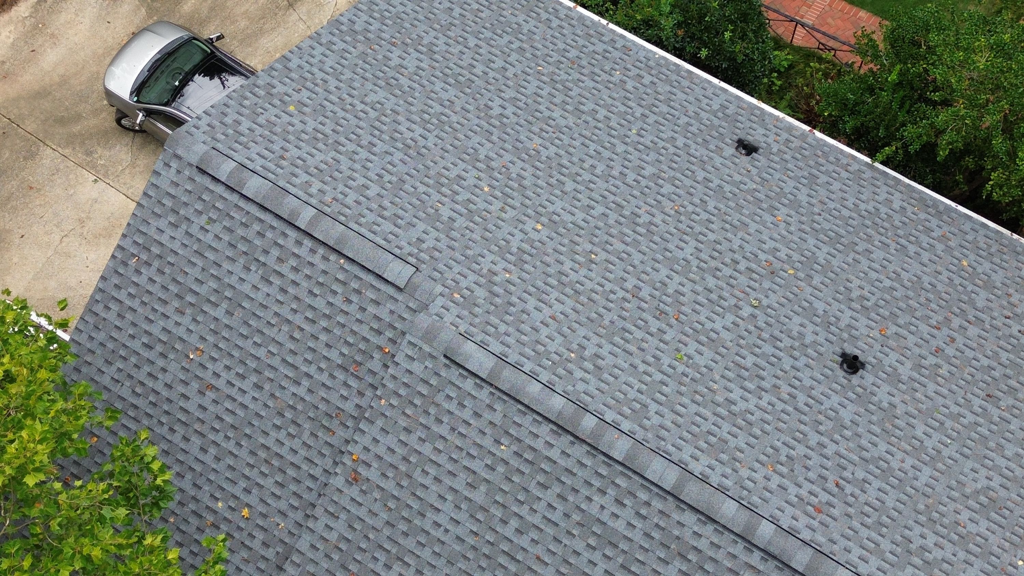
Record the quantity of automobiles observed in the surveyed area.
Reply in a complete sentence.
There is 1 automobile in the image.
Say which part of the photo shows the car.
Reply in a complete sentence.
You can find the car in the top left area of the picture.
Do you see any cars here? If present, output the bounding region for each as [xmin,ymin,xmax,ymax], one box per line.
[100,26,260,144]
